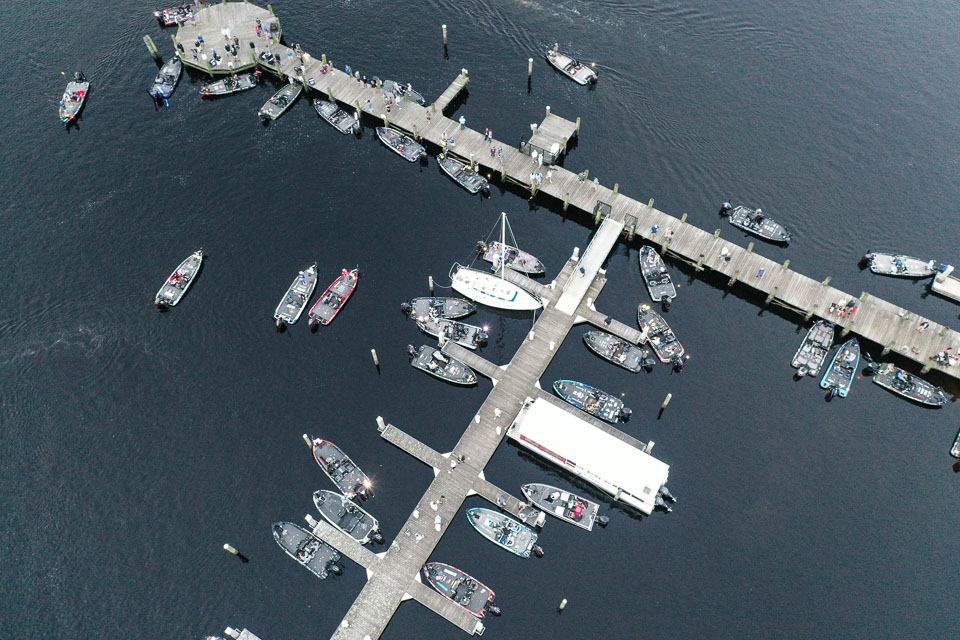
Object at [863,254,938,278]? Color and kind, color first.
white boat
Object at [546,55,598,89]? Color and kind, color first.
white boat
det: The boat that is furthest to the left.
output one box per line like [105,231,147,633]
[61,72,89,128]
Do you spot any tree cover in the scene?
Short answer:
No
